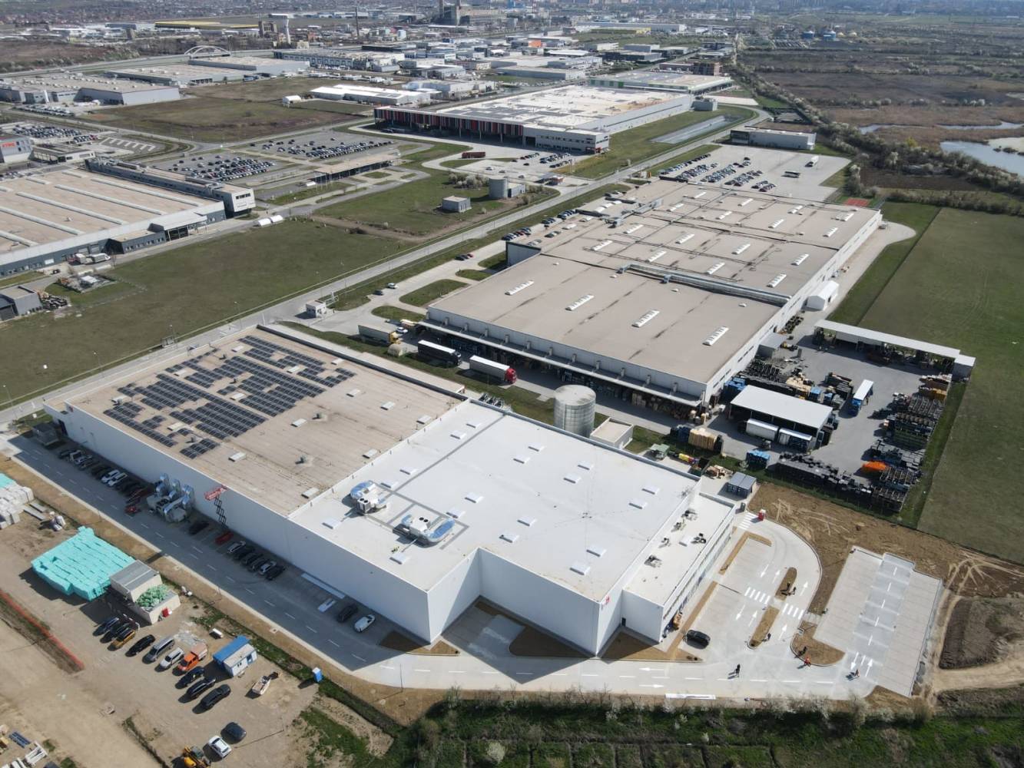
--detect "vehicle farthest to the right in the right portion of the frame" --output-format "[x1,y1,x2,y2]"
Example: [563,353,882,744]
[855,380,874,409]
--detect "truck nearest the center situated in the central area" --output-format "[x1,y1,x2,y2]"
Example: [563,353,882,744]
[466,357,519,385]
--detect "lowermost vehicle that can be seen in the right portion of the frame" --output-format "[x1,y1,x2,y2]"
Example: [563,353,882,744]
[683,625,713,646]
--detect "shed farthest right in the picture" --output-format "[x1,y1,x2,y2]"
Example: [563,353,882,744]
[951,354,976,379]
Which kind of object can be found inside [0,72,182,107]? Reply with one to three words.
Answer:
building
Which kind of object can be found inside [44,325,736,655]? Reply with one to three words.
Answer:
warehouse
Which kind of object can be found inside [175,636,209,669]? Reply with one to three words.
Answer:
truck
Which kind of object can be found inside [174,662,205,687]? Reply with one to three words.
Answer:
car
